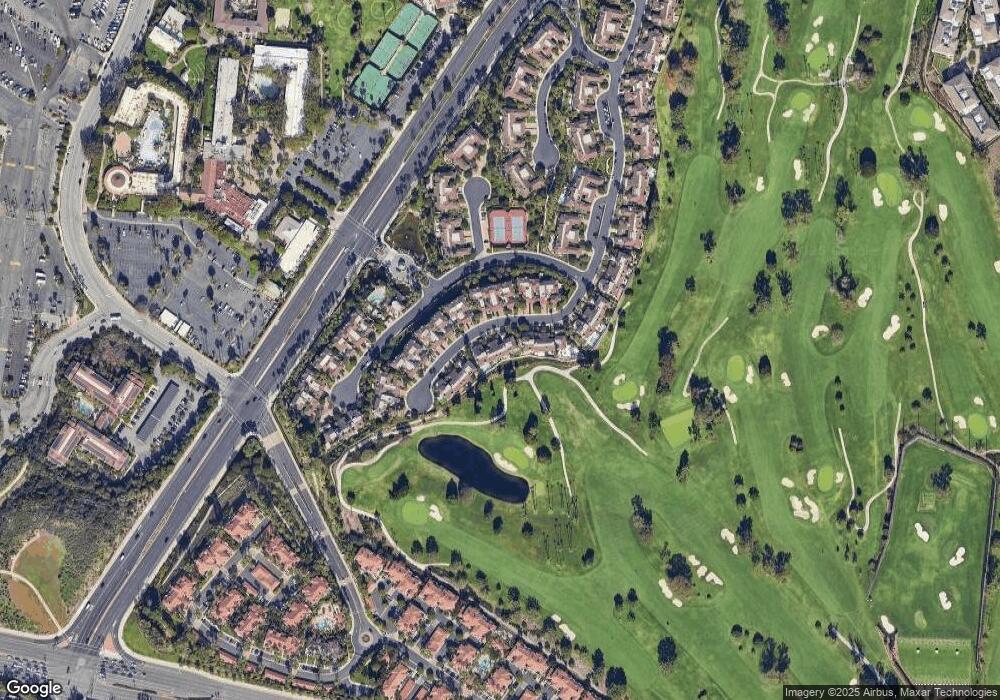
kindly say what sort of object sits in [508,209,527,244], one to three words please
tennis court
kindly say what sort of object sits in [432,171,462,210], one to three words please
house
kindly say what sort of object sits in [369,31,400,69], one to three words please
tennis court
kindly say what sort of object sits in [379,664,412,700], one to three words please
building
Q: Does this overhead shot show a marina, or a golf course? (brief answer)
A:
golf course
